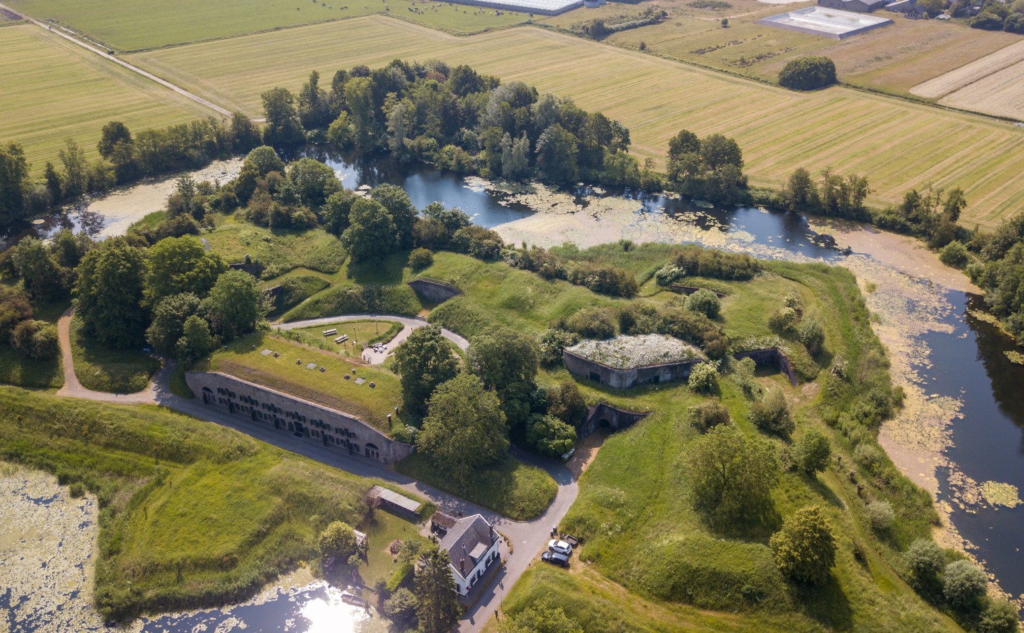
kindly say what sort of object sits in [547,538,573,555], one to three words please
car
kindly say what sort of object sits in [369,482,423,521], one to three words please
shed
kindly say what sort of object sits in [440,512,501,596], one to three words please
house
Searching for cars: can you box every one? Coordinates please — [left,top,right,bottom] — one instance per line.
[542,552,570,570]
[547,538,573,555]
